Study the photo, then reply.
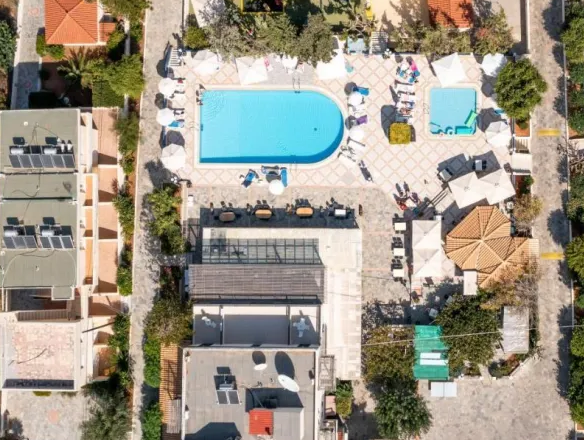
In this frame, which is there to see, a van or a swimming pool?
swimming pool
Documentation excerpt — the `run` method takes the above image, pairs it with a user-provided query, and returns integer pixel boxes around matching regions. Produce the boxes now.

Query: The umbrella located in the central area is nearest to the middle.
[270,179,286,195]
